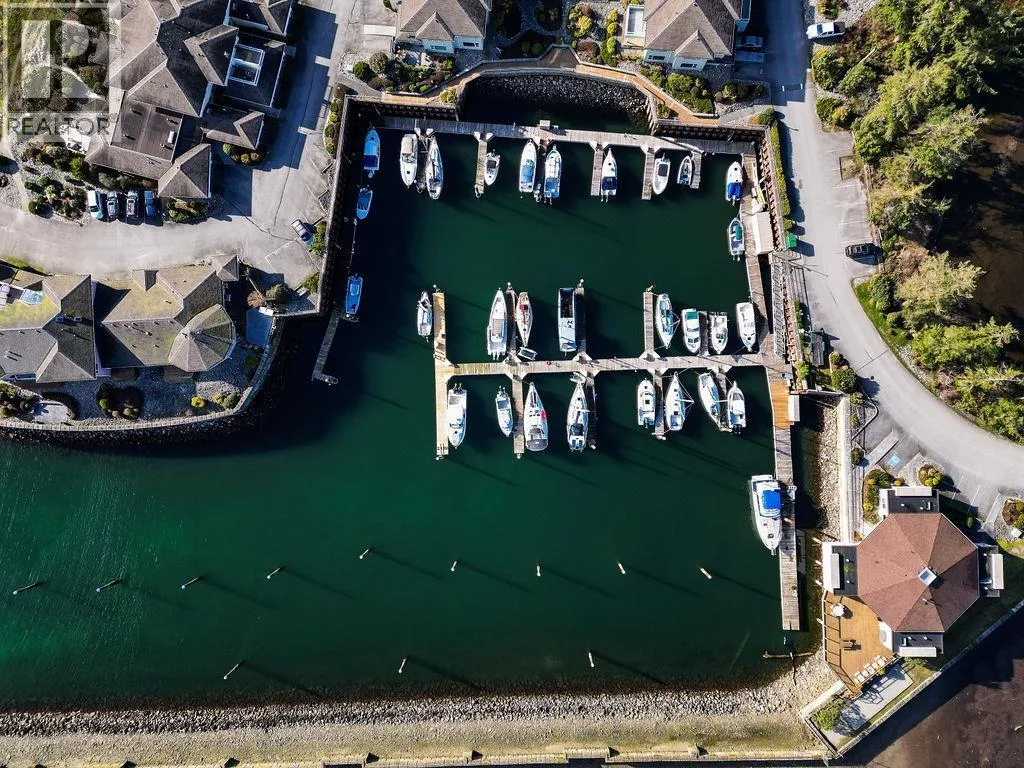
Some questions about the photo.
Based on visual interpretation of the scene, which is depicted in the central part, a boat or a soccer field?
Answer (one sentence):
Looking in the central part, you will find a boat.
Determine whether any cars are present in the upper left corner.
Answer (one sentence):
Yes, in the upper left corner there is a car.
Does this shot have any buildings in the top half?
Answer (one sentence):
Yes, a building can be seen in the top half.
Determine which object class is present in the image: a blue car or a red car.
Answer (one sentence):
Of the two, only a blue car appears.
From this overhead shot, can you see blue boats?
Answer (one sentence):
Yes, a blue boat appears in the view.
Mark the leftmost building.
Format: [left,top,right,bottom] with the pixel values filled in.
[0,261,112,383]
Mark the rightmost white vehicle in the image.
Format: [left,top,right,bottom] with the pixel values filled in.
[805,22,845,42]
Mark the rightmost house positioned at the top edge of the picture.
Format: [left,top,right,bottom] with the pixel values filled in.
[640,0,750,70]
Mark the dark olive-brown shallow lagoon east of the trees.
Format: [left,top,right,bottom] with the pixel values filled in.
[926,0,1024,398]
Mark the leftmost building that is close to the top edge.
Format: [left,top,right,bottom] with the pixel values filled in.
[88,0,293,200]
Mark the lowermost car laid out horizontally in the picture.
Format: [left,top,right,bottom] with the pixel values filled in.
[843,243,875,259]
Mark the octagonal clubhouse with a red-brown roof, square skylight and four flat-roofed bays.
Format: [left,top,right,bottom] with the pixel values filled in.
[822,484,1004,657]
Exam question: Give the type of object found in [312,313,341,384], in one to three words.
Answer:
pier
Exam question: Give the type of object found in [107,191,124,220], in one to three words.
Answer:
car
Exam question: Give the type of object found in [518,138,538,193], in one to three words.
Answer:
boat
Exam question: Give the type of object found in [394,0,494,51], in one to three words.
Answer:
house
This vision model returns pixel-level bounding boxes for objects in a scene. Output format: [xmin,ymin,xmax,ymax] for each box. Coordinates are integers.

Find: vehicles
[126,190,144,220]
[843,243,875,259]
[107,191,124,220]
[291,220,316,247]
[144,191,162,219]
[88,190,108,220]
[805,22,845,42]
